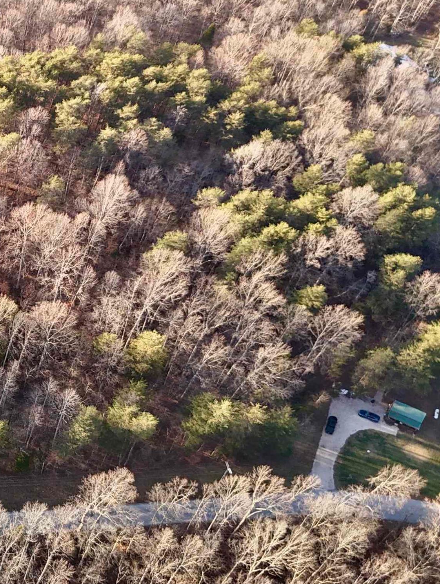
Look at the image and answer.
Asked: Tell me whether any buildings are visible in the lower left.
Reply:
No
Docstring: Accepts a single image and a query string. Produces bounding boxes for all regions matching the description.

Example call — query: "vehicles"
[324,418,337,434]
[357,412,380,423]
